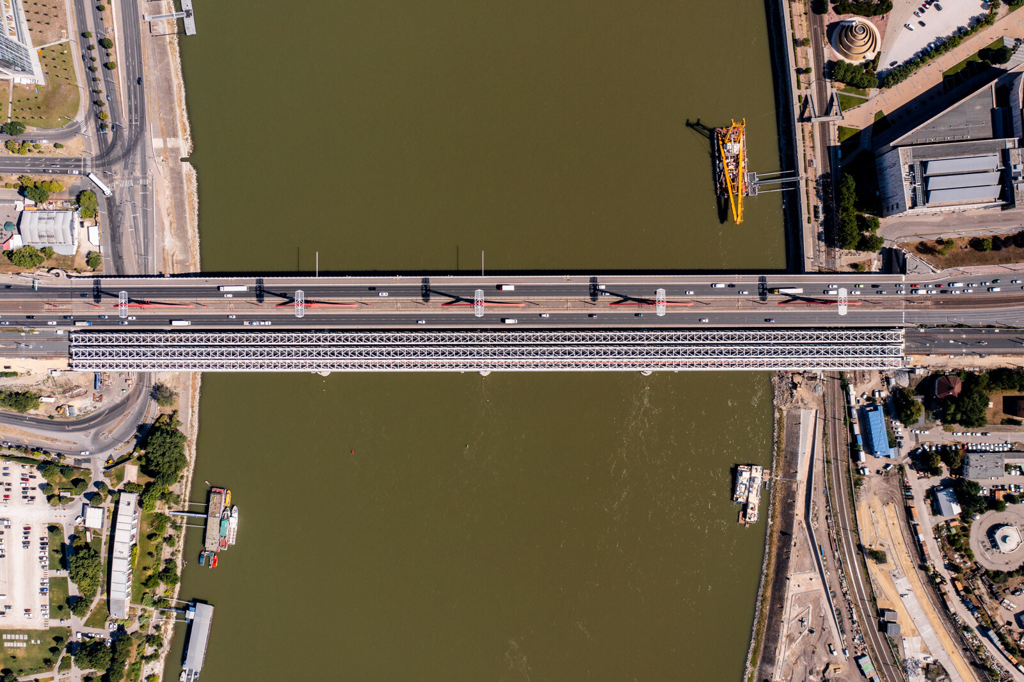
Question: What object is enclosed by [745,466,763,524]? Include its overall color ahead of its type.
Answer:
white ship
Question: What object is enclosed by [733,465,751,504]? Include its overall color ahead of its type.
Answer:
white ship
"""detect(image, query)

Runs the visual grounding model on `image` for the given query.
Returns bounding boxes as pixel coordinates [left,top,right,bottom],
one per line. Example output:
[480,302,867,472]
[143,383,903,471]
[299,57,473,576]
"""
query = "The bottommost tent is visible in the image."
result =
[19,210,80,256]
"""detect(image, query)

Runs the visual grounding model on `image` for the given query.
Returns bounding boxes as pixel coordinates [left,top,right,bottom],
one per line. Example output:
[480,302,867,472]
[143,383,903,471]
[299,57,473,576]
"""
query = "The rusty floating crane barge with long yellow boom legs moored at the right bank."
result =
[714,117,748,226]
